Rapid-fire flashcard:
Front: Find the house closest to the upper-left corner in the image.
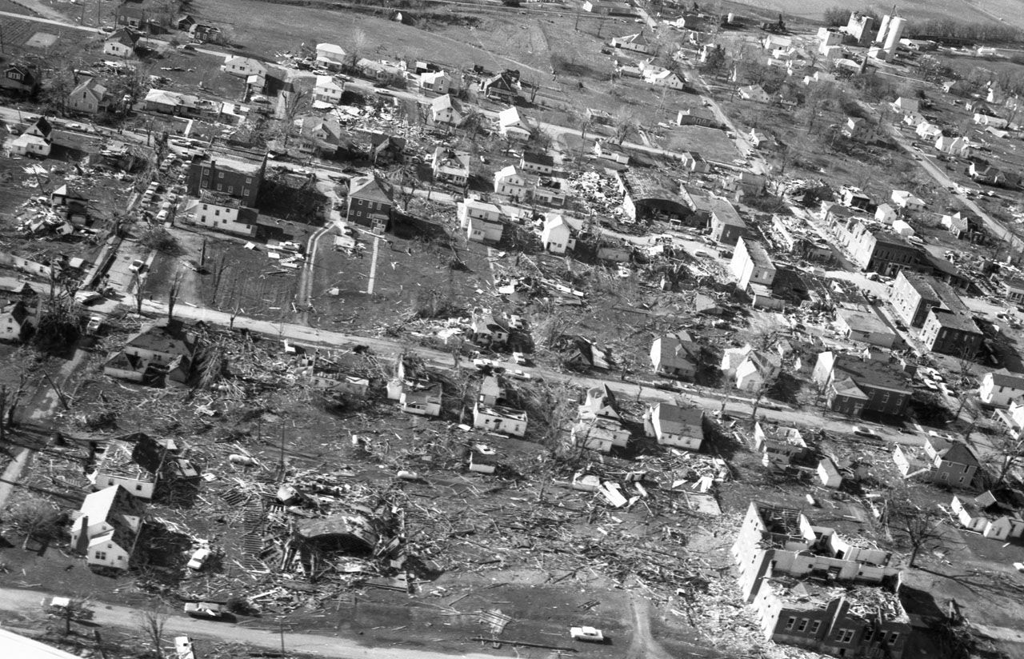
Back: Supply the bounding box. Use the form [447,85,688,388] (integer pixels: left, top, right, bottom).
[0,64,42,97]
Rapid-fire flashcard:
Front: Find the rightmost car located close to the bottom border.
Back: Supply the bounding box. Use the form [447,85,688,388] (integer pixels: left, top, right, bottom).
[571,624,603,639]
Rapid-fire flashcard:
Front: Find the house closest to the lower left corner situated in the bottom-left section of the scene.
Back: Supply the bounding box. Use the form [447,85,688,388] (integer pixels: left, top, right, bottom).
[63,483,155,577]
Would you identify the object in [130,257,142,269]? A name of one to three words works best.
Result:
vehicle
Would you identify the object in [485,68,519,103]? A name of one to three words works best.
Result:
house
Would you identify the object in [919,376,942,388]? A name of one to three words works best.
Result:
vehicle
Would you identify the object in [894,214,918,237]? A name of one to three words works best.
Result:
building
